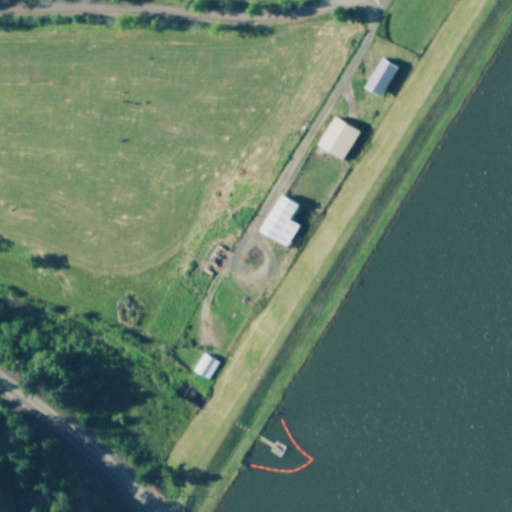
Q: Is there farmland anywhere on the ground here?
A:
Yes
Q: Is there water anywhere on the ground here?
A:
Yes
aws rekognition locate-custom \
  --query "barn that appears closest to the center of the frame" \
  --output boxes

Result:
[260,194,300,248]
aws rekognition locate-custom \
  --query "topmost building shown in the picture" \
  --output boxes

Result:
[365,56,400,97]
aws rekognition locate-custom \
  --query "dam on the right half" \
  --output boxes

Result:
[140,0,512,512]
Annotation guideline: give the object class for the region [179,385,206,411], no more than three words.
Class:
shed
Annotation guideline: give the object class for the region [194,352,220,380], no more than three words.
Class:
shed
